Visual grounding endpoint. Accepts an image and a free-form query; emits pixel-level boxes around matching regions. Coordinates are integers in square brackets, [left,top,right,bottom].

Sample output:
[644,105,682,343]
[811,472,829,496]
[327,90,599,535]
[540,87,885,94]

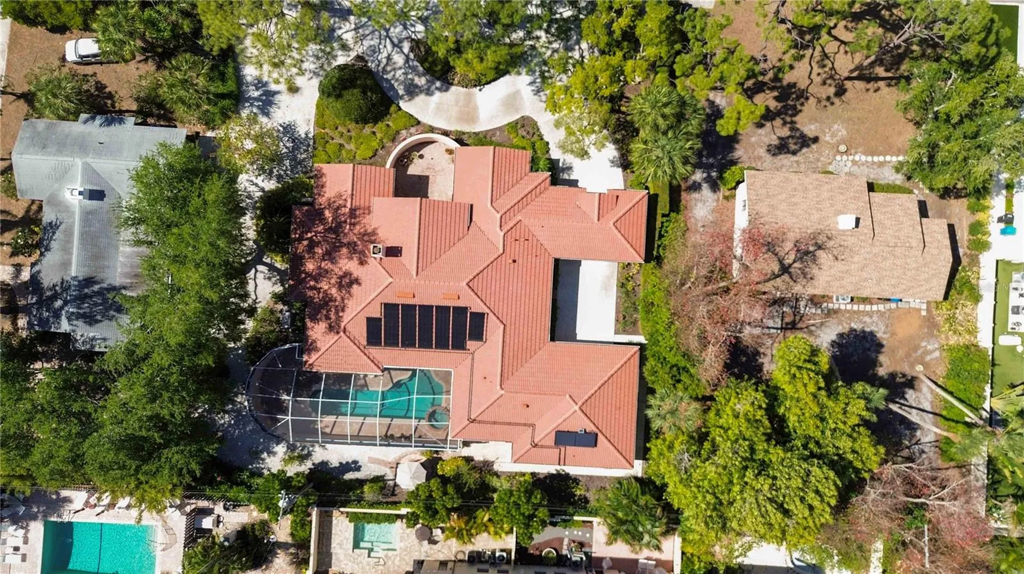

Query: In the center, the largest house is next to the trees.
[284,145,649,470]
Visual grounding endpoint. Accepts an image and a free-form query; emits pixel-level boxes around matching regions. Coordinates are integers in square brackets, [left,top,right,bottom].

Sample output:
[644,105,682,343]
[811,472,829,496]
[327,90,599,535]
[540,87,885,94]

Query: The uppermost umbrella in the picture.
[396,456,426,486]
